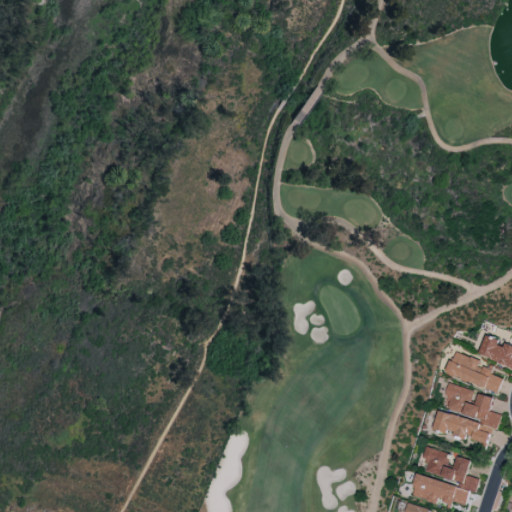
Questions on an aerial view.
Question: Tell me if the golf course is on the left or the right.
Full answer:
The golf course appears in the right half of the scene.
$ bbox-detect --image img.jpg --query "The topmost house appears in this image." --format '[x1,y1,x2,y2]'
[482,331,512,362]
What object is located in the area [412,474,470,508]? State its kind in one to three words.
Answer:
house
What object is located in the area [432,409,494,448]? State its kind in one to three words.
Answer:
house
